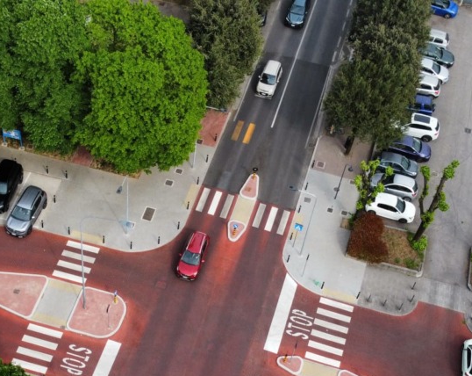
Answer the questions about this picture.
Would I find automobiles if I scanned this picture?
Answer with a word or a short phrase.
Yes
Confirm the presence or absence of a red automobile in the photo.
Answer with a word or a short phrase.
Yes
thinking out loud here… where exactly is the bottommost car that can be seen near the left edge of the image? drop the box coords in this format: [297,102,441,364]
[9,185,45,235]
